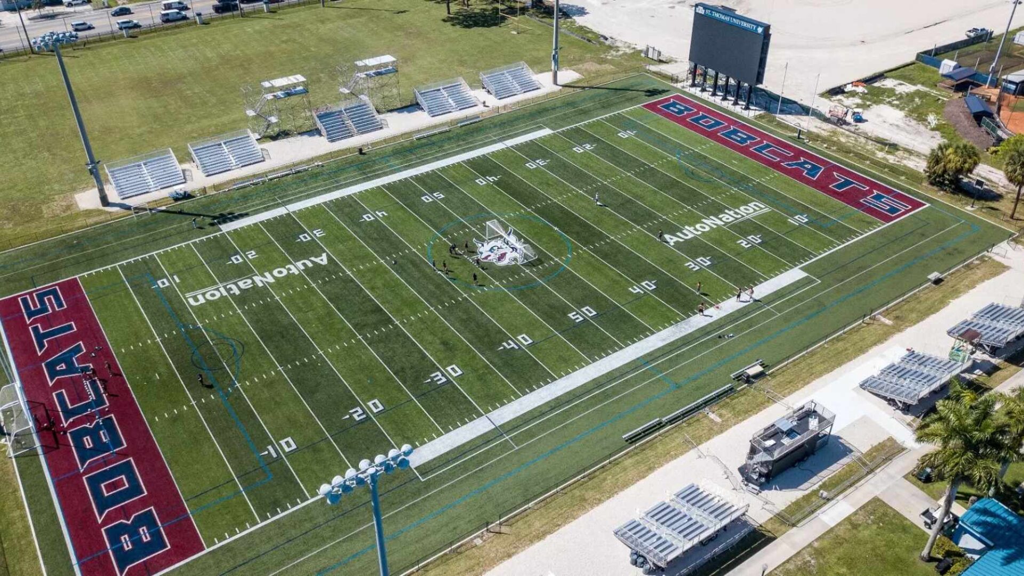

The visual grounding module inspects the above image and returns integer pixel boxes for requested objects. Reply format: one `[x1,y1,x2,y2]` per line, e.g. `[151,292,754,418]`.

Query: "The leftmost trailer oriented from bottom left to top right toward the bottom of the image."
[736,405,831,495]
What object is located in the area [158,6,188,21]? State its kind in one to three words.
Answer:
vehicle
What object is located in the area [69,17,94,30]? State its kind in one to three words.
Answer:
vehicle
